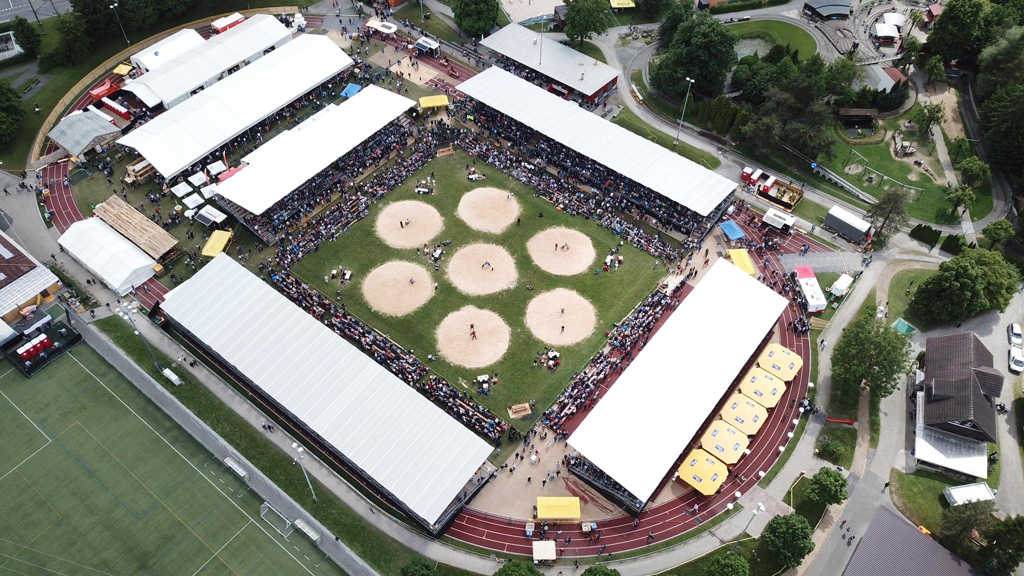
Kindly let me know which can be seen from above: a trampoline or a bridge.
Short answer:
bridge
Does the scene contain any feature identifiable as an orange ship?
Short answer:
No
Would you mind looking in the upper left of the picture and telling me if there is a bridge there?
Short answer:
No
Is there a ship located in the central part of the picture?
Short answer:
No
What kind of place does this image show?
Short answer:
sports ground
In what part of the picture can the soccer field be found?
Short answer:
bottom left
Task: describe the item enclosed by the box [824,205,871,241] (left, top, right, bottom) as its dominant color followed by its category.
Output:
white trailer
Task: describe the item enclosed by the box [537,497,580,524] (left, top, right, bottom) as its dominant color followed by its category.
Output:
yellow tent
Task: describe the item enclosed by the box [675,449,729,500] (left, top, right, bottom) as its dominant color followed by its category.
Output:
yellow umbrella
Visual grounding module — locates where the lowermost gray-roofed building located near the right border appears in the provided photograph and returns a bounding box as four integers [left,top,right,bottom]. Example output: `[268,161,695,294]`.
[840,505,977,576]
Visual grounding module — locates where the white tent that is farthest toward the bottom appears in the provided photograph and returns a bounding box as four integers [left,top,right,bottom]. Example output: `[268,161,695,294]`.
[533,539,555,569]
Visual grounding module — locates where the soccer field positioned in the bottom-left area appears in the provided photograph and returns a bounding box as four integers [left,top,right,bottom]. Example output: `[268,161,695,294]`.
[0,339,349,576]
